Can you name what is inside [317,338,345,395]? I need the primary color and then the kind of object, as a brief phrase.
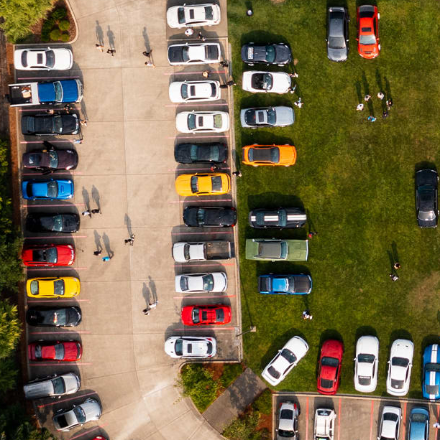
red car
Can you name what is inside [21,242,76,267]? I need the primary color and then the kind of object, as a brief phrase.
red car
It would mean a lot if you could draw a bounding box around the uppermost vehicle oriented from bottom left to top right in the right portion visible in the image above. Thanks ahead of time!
[262,335,308,389]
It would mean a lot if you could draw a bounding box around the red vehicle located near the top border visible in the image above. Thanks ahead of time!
[354,5,381,59]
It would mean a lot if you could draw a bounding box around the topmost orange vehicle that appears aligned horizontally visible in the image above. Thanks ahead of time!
[241,141,298,168]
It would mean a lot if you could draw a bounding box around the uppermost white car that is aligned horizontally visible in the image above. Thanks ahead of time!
[167,2,221,28]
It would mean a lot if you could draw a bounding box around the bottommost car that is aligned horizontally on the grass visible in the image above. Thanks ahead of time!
[256,271,313,296]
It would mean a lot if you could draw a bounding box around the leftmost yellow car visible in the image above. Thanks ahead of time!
[25,274,82,300]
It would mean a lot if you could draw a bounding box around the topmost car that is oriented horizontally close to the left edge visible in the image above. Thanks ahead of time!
[14,45,74,71]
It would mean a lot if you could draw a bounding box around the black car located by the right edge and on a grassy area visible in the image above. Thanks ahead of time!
[413,169,439,227]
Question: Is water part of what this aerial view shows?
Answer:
No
